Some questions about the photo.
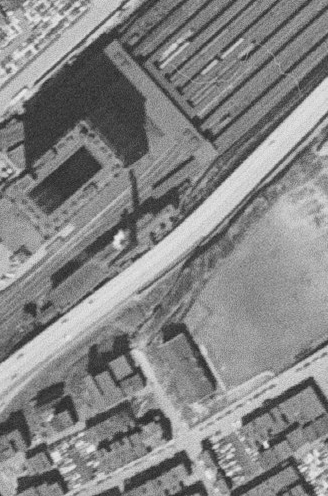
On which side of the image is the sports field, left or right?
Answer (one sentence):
The sports field is on the right side of the image.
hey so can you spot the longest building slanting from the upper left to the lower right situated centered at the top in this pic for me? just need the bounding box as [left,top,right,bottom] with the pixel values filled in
[105,39,217,167]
